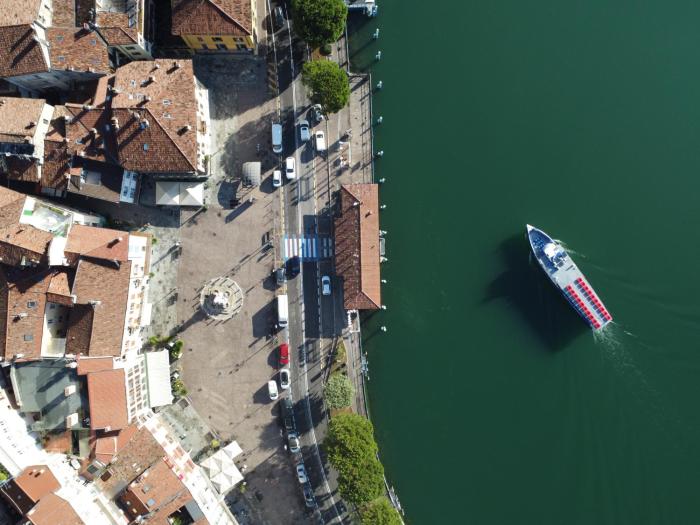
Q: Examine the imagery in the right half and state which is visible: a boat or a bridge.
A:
boat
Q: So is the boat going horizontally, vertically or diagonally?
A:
diagonally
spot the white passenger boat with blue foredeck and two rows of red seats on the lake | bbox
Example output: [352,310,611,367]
[527,224,615,332]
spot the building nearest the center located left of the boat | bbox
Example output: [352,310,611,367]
[334,183,381,310]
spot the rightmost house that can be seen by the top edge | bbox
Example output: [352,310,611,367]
[170,0,256,53]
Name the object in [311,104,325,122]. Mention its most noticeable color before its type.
gray vehicle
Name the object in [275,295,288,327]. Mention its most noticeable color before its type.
white vehicle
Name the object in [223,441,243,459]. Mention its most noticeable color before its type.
white umbrella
